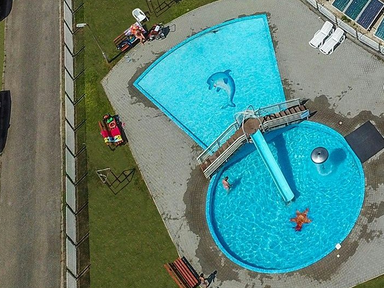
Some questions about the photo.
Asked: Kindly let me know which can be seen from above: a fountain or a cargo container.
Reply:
fountain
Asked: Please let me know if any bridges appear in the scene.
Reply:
Yes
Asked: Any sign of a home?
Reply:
No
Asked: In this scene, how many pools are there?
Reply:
two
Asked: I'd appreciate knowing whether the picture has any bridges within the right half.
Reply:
Yes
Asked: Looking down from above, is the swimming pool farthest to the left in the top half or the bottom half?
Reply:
top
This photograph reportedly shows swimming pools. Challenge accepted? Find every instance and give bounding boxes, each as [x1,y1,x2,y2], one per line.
[135,14,285,159]
[207,120,367,274]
